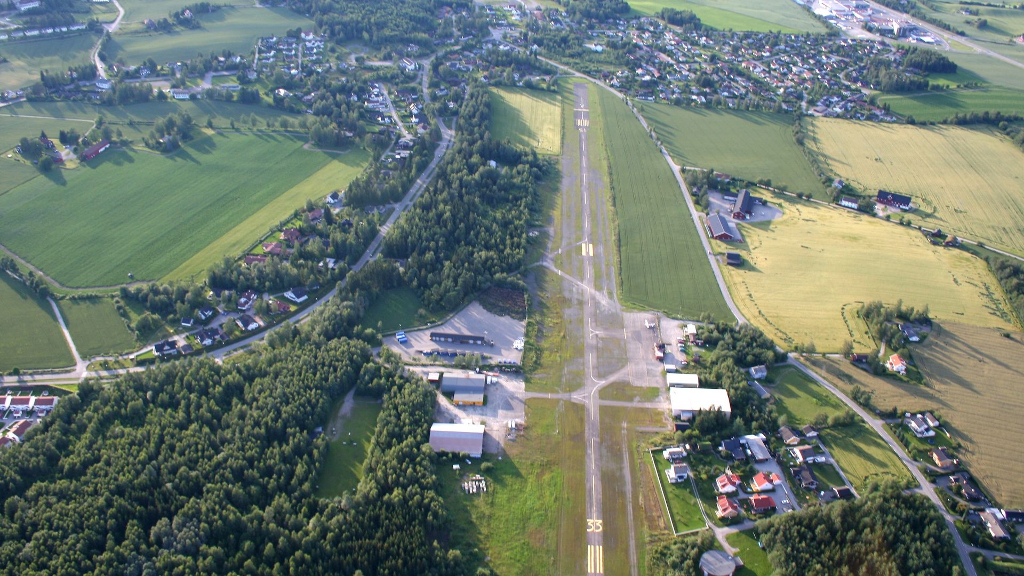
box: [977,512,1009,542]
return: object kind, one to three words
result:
house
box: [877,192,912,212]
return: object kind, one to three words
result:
barn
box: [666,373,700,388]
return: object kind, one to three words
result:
hangar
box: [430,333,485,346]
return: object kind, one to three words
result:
building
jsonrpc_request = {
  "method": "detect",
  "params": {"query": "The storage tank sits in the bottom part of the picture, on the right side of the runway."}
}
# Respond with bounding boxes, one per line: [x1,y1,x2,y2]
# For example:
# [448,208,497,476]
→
[699,548,748,576]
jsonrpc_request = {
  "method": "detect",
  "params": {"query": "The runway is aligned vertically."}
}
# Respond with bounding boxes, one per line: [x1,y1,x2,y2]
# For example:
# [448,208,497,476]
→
[572,80,605,576]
